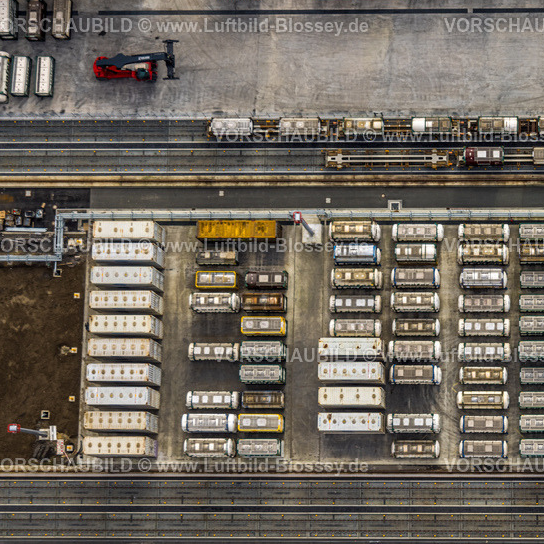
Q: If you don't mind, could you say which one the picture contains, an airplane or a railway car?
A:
railway car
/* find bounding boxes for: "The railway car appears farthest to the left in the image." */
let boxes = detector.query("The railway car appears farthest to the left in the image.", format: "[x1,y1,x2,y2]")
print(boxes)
[203,119,327,138]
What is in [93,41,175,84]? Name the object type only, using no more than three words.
work vehicle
